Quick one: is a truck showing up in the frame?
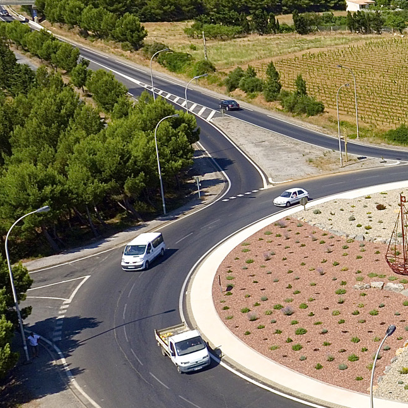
Yes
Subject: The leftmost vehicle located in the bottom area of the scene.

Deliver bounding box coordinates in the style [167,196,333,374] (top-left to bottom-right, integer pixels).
[121,233,166,270]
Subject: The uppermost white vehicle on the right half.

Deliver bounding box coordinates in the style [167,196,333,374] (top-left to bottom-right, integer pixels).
[276,187,313,207]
